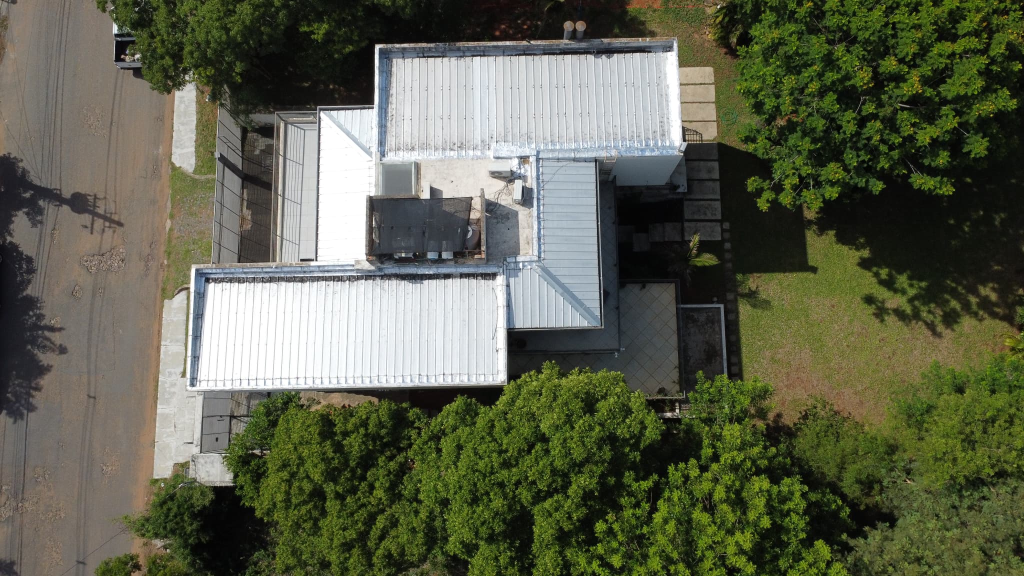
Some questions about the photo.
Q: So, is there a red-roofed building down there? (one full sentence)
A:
No, no red-roofed building can be seen from above.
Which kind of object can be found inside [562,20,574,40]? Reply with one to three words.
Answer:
chimney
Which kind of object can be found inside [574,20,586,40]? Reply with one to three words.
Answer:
chimney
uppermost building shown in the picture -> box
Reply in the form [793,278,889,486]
[187,38,684,390]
